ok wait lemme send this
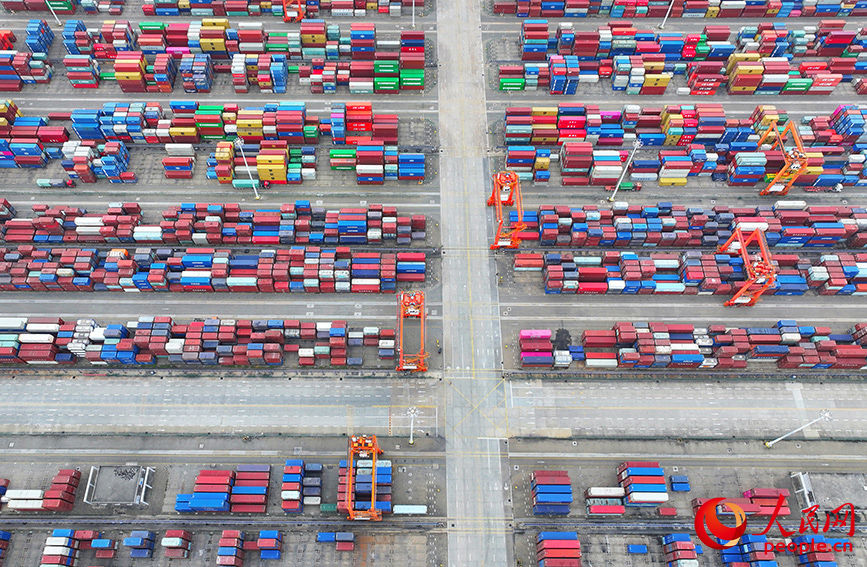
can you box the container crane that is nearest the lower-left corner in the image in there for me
[340,435,385,524]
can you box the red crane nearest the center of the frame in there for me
[395,289,430,372]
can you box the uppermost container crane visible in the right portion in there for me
[754,118,812,194]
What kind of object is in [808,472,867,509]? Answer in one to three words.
shed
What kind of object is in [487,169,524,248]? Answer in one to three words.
container crane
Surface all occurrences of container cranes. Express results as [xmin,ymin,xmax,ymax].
[395,289,430,372]
[340,435,385,524]
[713,223,780,303]
[487,169,524,248]
[754,118,812,194]
[283,0,308,23]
